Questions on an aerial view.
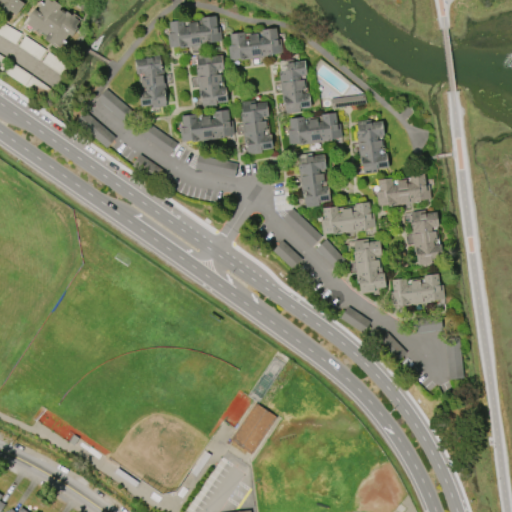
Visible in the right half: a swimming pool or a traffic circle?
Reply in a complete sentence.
You can see a swimming pool in the right half.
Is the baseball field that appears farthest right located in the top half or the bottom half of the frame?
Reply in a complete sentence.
Seen from above, the baseball field that appears farthest right lies in the bottom half of the view.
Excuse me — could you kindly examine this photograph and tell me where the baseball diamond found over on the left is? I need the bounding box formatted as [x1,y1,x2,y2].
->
[2,212,284,492]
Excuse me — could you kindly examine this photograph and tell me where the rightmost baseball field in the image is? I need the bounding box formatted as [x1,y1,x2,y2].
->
[257,359,406,512]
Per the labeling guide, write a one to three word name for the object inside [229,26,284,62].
building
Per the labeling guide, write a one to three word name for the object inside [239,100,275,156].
building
